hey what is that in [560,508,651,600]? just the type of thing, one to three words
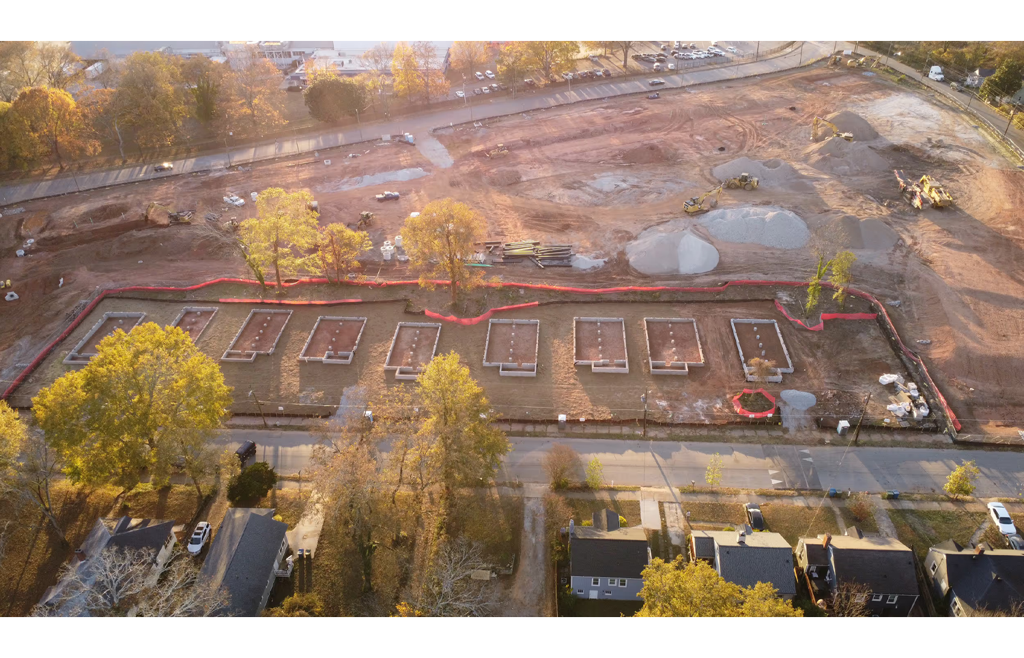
house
